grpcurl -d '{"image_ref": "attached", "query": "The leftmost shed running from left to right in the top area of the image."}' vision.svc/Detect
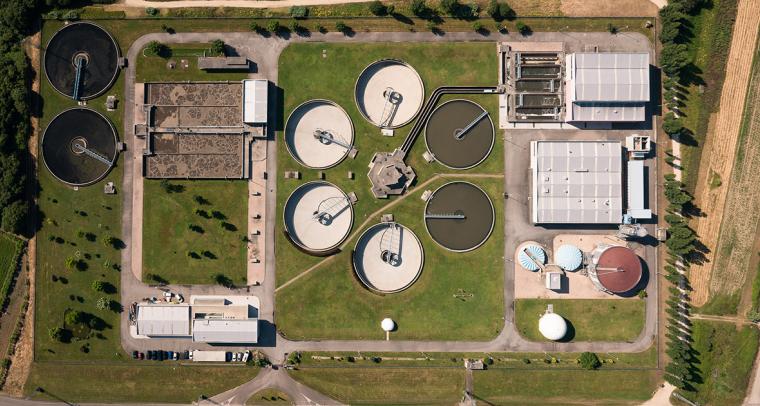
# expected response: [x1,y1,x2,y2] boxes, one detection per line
[198,57,250,71]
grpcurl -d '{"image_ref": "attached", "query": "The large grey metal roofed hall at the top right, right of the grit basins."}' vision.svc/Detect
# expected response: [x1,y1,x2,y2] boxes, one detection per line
[571,53,650,103]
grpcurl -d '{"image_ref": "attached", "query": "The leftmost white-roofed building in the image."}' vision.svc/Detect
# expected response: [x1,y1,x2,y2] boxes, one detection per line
[137,304,191,335]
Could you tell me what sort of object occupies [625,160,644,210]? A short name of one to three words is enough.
building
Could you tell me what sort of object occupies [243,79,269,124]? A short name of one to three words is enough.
house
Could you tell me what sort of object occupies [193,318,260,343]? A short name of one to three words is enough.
building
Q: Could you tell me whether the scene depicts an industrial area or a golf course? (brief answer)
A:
industrial area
